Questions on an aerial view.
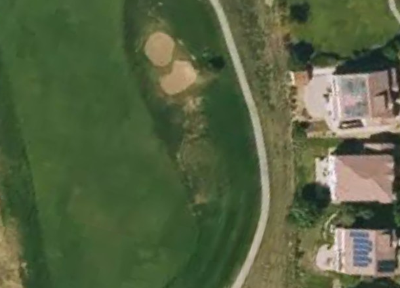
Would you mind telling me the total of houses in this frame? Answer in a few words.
three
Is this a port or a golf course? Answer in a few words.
golf course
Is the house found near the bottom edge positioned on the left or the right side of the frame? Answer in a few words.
right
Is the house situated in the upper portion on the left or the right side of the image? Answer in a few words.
right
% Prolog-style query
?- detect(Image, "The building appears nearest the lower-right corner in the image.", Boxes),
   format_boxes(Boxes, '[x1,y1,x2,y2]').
[332,229,394,276]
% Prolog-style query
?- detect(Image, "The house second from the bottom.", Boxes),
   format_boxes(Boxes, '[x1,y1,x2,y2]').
[328,156,392,202]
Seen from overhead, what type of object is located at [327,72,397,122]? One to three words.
house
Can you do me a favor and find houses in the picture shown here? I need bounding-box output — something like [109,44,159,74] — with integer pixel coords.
[332,229,394,276]
[327,72,397,122]
[328,156,392,202]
